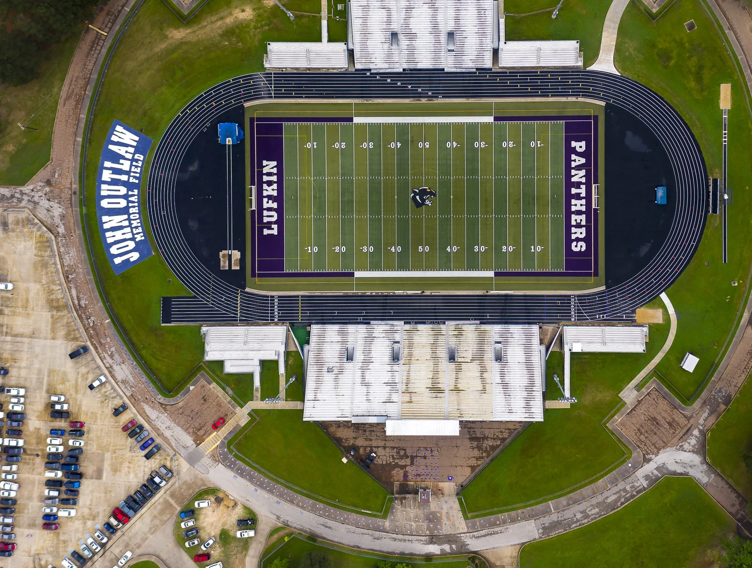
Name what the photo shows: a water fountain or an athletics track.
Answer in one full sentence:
This aerial view contains an athletics track.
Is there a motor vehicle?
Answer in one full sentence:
Yes, a motor vehicle appears in the view.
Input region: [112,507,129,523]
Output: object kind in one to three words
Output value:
vehicle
